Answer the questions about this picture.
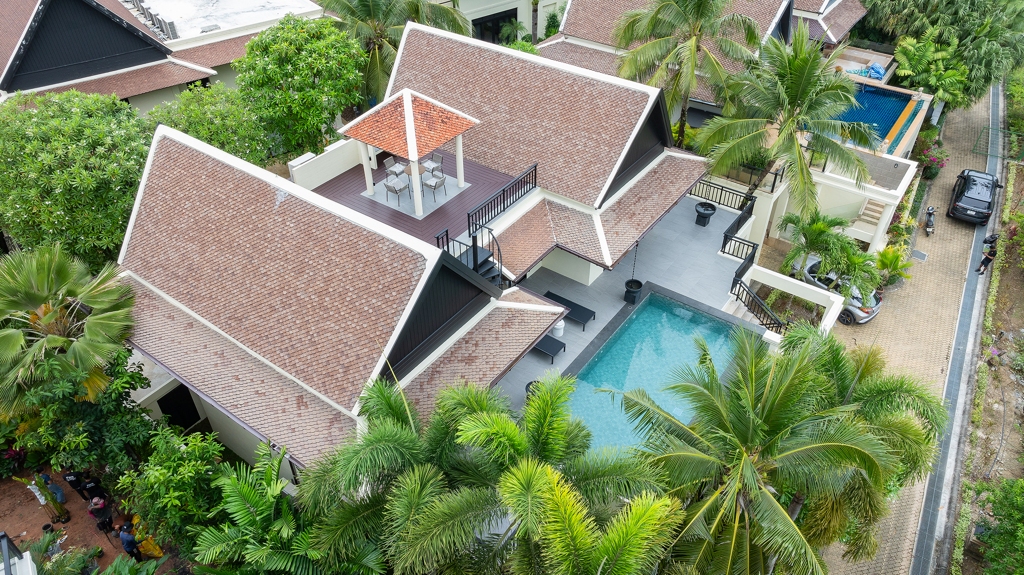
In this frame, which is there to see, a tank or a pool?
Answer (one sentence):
Of the two, only a pool appears.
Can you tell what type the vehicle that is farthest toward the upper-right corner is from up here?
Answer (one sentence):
I'd say the vehicle that is farthest toward the upper-right corner is a car.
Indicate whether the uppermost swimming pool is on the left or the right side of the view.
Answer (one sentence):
The uppermost swimming pool sits on the right side.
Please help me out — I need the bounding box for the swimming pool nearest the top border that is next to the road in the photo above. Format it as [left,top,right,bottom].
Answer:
[781,73,939,169]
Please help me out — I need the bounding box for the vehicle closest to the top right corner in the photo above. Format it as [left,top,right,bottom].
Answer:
[947,170,1003,225]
